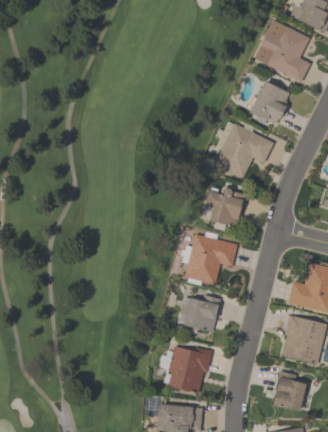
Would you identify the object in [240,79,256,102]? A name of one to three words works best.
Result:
swimming pool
